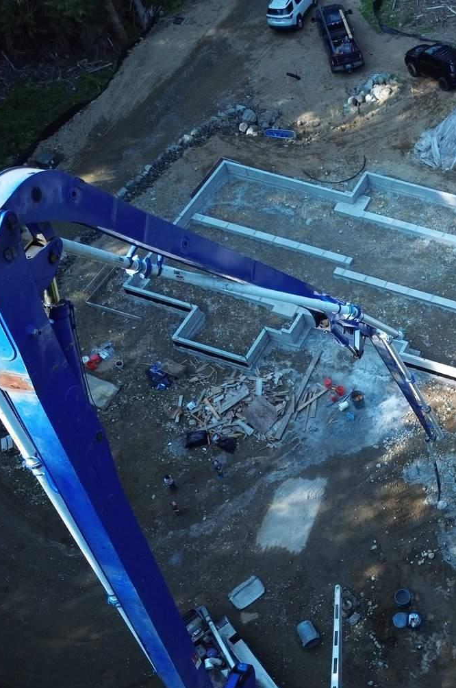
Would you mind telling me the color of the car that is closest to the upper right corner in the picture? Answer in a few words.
black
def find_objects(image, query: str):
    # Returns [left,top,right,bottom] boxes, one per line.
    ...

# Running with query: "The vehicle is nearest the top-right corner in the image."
[400,44,456,93]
